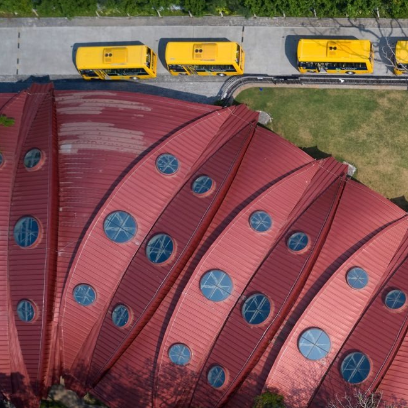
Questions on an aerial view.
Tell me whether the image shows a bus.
Yes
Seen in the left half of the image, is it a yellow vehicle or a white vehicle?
yellow vehicle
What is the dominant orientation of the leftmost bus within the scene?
from side to side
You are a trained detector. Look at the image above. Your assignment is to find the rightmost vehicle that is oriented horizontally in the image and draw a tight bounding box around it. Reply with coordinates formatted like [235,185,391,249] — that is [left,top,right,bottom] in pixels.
[293,39,376,74]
